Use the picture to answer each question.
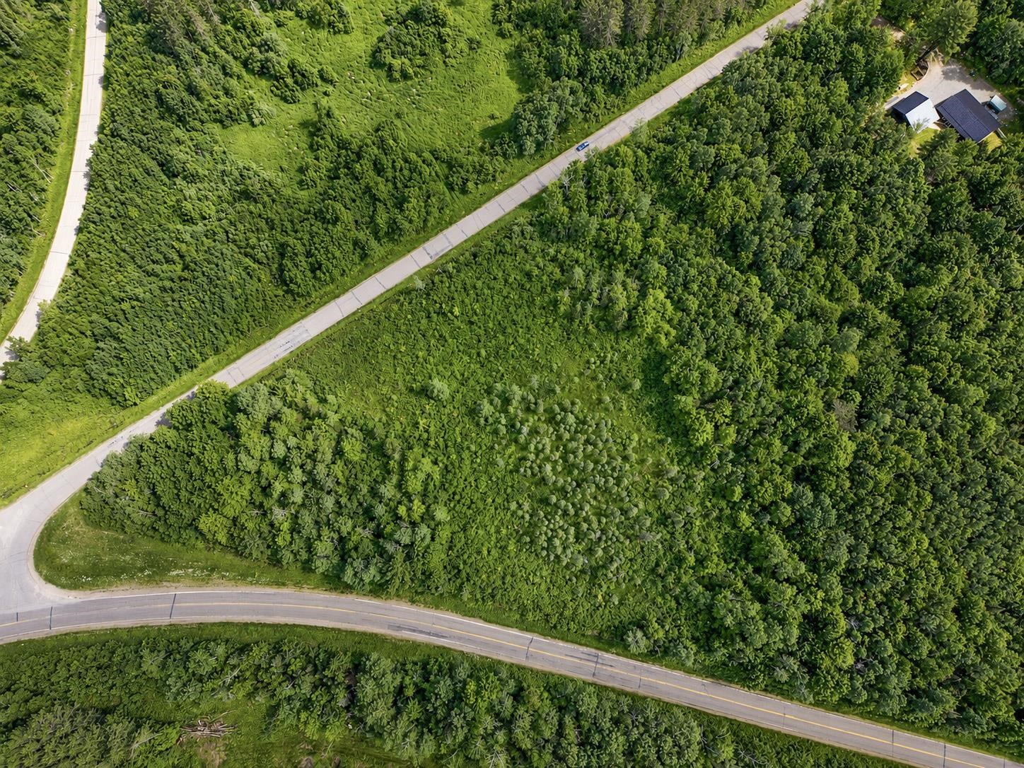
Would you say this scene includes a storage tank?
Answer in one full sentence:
No, I can see no storage tank in this picture.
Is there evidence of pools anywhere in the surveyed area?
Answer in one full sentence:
No, I find no pool anywhere in the image.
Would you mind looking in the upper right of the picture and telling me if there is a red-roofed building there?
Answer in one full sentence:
No, there's no red-roofed building to be seen in the upper right of the picture.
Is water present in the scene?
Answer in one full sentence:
No, the scene doesn't show any water.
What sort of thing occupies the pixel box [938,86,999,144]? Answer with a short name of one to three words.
house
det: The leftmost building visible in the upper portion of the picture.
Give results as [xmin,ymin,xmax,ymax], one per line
[892,89,940,133]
